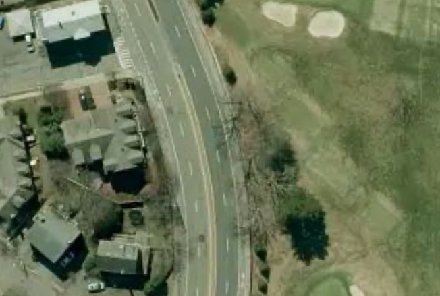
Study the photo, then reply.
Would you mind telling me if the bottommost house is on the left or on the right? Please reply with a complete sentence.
The bottommost house is on the left side of the image.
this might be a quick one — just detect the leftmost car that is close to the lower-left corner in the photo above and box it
[61,251,76,267]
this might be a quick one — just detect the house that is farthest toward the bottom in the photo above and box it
[97,239,151,276]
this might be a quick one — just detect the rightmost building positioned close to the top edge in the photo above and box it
[40,0,107,46]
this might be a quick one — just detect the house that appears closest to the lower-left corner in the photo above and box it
[26,206,81,262]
